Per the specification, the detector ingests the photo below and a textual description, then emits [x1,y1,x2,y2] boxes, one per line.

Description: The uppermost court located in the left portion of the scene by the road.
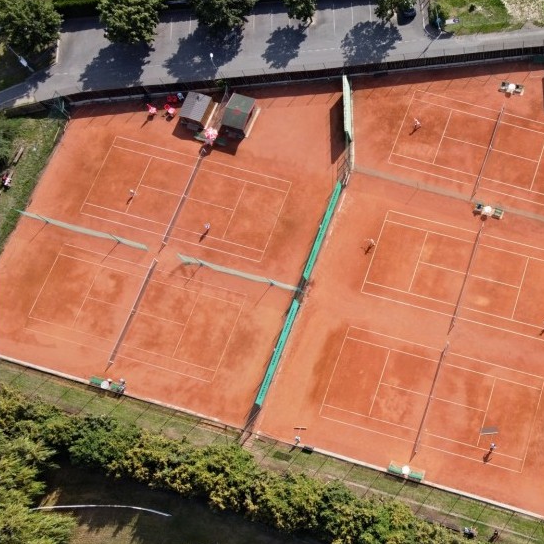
[64,124,307,275]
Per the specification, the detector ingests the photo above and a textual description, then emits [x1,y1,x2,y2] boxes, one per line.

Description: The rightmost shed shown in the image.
[222,93,259,136]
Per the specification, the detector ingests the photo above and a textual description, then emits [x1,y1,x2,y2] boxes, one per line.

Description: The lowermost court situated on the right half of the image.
[302,312,544,489]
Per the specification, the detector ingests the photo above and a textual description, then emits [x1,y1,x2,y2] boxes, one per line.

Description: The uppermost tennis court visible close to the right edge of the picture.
[372,77,544,216]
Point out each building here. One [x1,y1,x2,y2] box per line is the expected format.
[179,92,216,128]
[222,93,259,136]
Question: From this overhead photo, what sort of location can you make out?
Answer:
sports ground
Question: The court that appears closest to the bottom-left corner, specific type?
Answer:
tennis court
